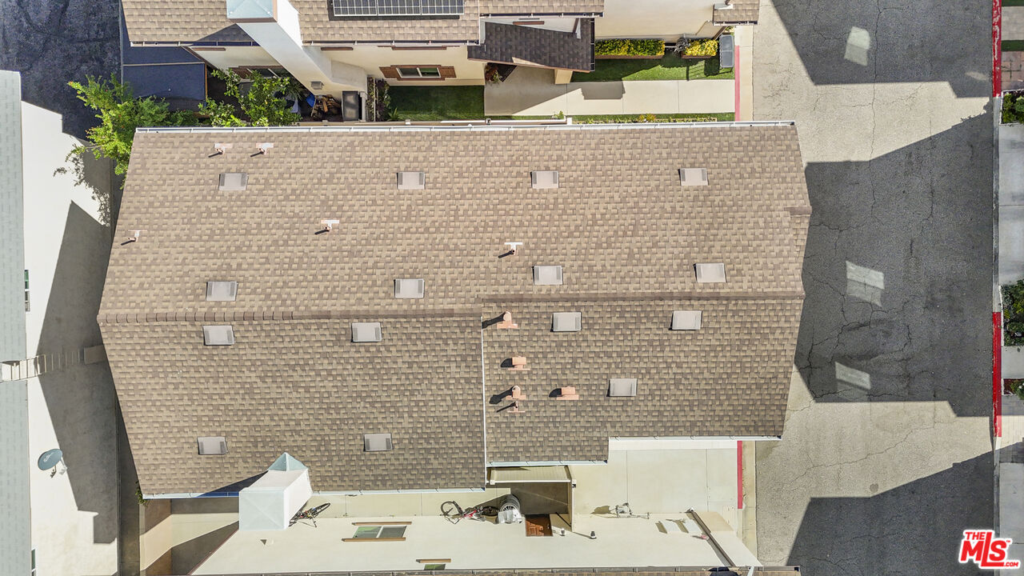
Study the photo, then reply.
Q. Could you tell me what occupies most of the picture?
buildings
